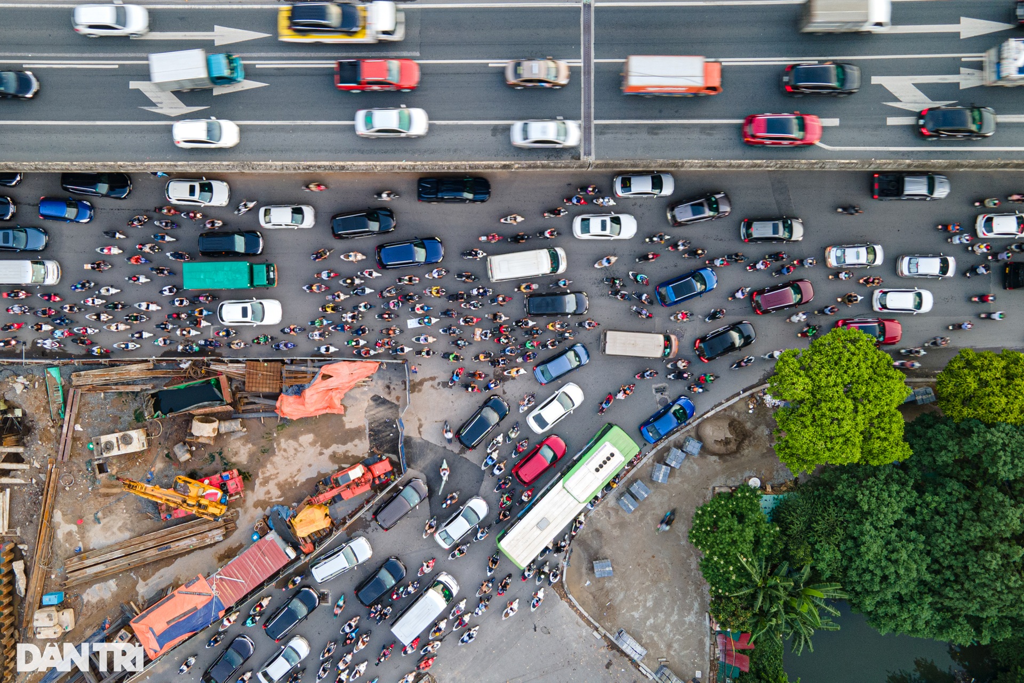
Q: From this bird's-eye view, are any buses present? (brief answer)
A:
Yes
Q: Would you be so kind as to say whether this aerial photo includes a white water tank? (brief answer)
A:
No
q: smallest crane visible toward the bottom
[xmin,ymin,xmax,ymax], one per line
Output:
[308,442,395,505]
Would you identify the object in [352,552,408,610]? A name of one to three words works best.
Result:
car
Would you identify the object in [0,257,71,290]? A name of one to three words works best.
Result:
van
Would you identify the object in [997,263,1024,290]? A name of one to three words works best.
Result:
truck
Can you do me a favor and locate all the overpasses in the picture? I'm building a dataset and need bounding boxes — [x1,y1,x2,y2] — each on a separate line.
[0,0,1024,172]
